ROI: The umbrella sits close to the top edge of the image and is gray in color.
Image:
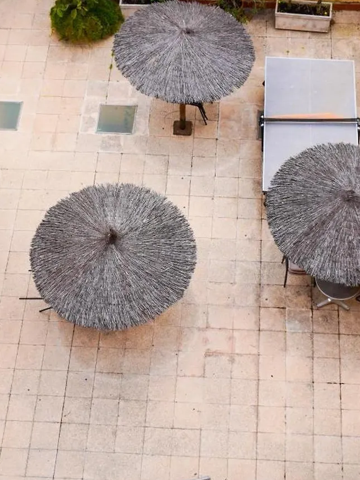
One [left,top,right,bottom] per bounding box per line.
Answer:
[117,1,262,135]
